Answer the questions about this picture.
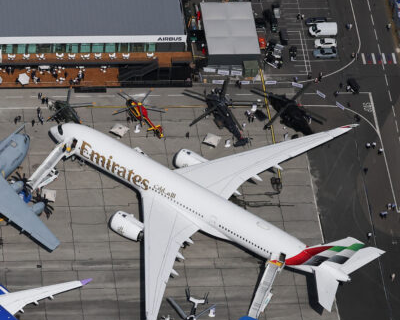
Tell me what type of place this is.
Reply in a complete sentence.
This looks like an airport.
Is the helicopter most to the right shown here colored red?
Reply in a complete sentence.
No, from above the helicopter most to the right looks black.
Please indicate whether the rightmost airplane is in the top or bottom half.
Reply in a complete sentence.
Seen from above, the rightmost airplane lies in the bottom half of the view.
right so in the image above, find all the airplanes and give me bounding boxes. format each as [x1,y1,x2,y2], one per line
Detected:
[0,277,88,320]
[0,123,55,250]
[49,126,388,320]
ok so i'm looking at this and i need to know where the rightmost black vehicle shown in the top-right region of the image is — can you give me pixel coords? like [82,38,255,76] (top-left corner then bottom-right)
[344,77,363,94]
